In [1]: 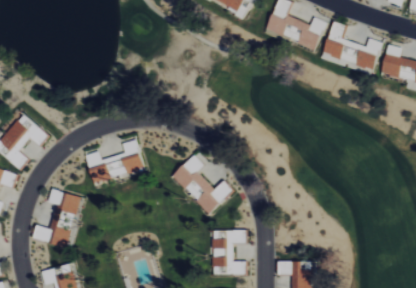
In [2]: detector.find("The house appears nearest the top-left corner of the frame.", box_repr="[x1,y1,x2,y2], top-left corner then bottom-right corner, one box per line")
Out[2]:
[0,110,50,170]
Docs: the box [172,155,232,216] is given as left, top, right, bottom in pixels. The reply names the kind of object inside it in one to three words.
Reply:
house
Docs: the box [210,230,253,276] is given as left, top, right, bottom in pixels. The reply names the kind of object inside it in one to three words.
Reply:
house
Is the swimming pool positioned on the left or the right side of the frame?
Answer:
left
